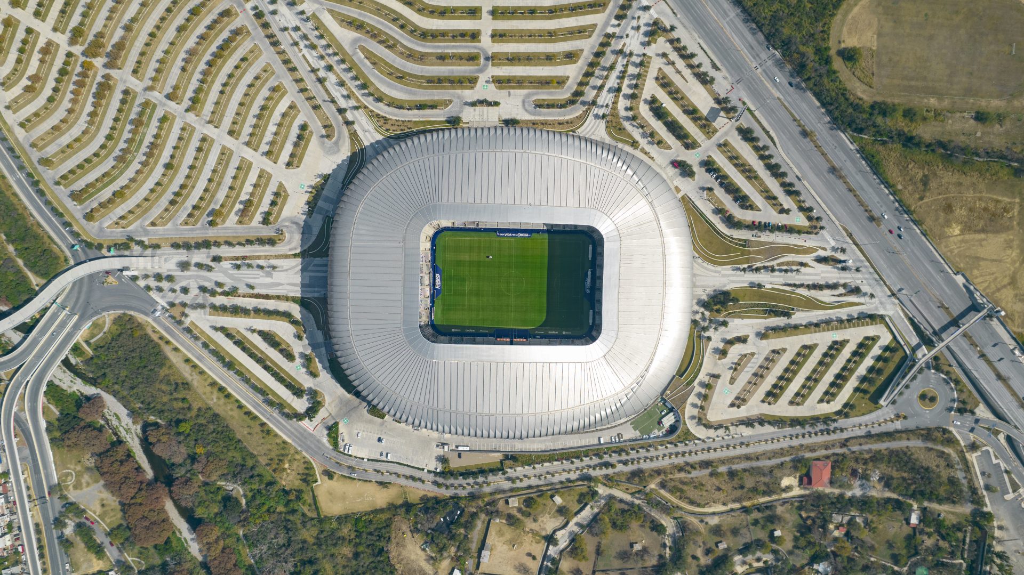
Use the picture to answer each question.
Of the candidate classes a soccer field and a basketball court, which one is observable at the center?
soccer field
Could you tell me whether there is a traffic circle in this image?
Yes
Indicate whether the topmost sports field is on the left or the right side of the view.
right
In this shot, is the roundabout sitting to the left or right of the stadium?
on the right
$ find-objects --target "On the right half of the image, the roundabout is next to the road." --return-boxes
[903,373,956,424]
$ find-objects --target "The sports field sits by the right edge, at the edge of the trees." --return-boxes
[830,0,1024,108]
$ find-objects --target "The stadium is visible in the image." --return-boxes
[327,125,693,440]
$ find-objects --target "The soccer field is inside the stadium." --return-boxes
[430,227,596,338]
